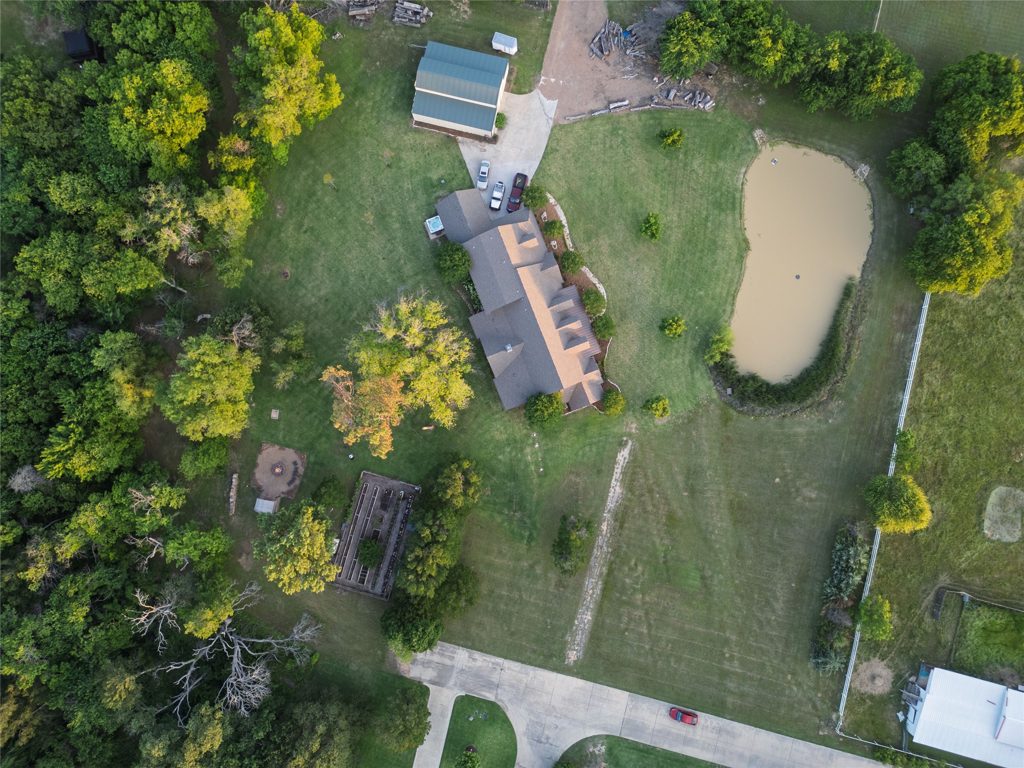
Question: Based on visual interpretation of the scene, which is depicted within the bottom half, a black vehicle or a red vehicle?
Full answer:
The feature located within the bottom half is a red vehicle.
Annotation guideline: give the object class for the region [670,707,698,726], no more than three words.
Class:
car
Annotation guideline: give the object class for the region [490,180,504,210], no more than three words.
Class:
car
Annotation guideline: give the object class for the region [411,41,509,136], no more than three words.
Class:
barn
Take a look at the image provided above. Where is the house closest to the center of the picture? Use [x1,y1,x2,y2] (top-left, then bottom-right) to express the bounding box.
[435,188,604,410]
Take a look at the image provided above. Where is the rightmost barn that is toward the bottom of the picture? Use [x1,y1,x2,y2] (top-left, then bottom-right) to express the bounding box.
[904,667,1024,768]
